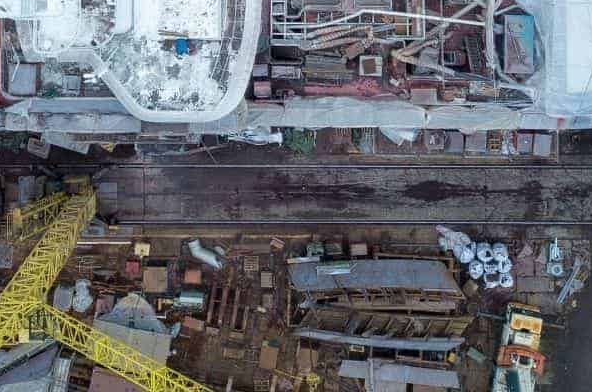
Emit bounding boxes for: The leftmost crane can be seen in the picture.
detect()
[0,166,235,392]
